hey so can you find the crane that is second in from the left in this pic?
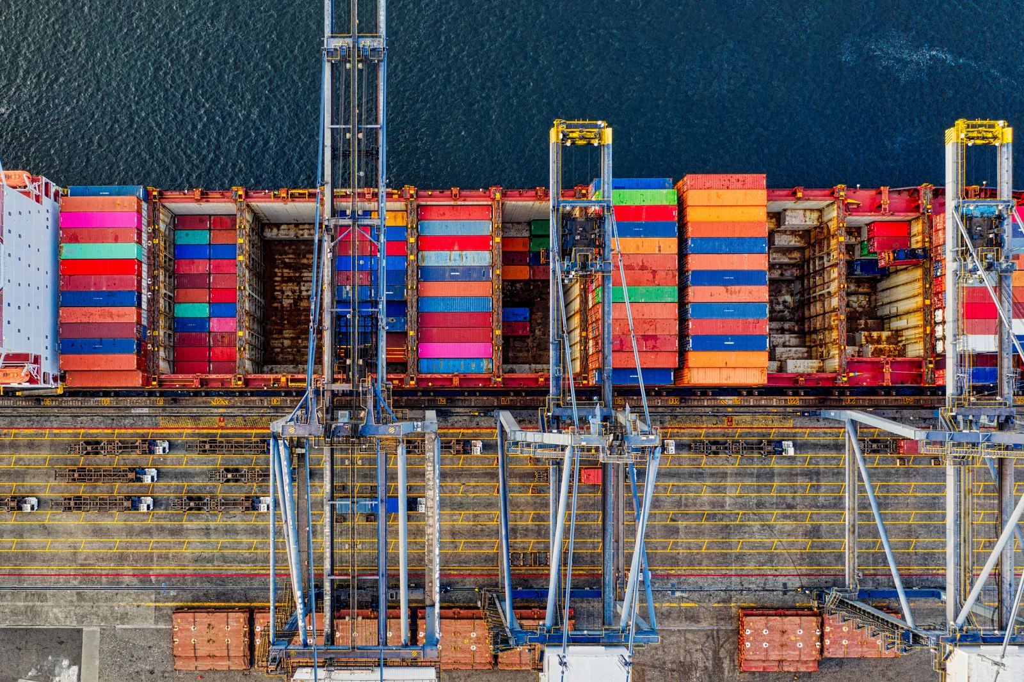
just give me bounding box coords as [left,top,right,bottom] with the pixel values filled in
[469,116,669,682]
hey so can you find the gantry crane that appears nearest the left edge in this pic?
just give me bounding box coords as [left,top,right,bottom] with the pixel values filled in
[251,0,456,682]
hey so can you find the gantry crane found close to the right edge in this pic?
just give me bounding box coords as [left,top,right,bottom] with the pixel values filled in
[797,116,1024,682]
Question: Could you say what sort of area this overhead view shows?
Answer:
port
